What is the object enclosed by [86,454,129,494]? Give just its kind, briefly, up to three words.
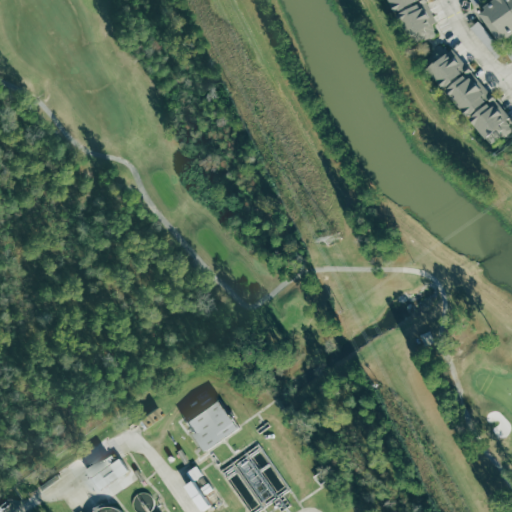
building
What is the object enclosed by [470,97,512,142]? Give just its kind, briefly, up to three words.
house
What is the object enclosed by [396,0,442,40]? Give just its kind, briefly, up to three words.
house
